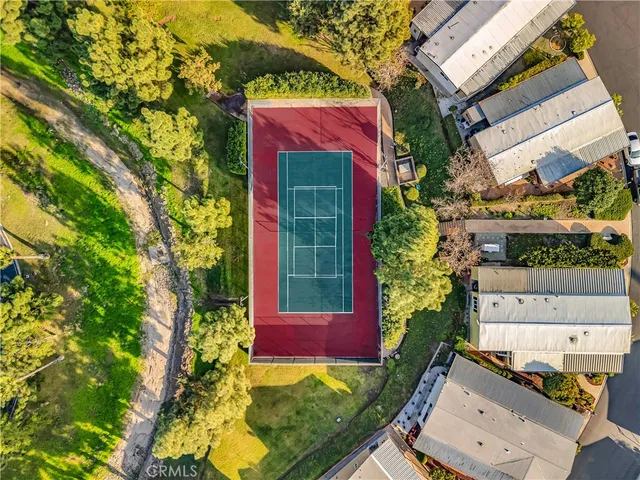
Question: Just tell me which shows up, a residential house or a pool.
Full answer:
There is a residential house in the scene.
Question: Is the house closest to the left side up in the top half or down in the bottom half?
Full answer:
The house closest to the left side sits in the bottom half of the picture.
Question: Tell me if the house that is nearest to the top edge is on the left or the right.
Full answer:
The house that is nearest to the top edge is on the right side of the image.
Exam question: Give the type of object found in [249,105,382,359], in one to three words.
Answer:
tennis court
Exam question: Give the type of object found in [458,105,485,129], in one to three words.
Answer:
shed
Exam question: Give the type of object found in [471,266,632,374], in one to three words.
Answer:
house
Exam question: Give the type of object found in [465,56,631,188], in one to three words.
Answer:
house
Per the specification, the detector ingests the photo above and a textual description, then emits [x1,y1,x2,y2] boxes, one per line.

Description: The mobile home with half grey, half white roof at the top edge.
[409,0,578,106]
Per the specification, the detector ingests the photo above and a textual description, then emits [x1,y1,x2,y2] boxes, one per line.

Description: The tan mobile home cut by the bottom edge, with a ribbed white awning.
[346,429,423,480]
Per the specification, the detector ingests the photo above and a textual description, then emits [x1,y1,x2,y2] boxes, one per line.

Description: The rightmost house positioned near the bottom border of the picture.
[410,351,585,480]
